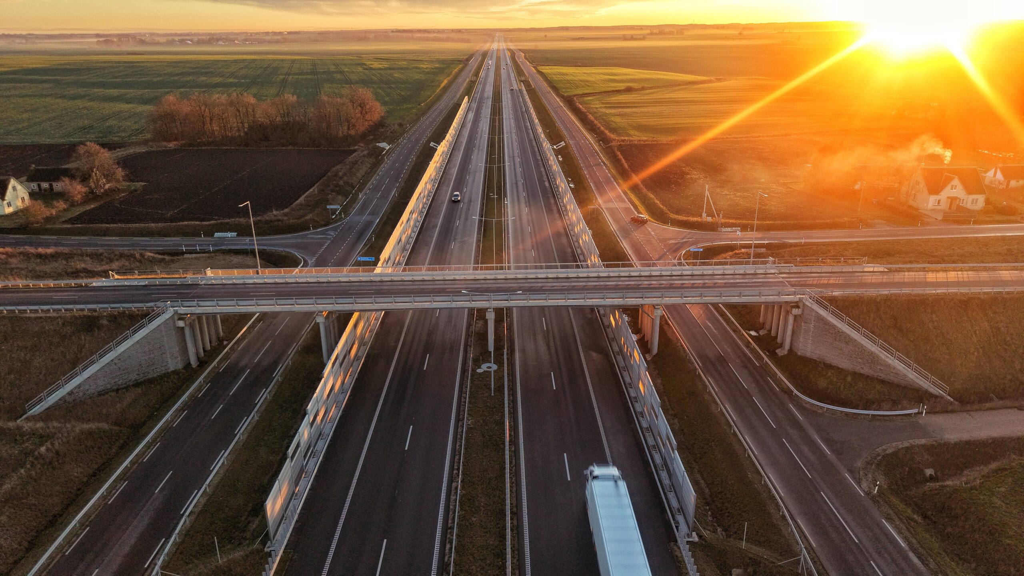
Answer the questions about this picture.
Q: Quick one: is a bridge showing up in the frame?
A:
Yes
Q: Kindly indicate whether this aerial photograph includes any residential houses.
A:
Yes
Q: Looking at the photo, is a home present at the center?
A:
No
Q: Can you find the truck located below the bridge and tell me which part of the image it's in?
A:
bottom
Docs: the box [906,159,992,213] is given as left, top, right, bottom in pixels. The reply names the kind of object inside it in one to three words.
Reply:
house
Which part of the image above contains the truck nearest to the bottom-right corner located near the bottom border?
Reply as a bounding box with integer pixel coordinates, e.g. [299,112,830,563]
[583,461,650,576]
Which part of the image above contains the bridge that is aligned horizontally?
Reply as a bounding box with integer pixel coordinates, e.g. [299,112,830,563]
[176,264,806,366]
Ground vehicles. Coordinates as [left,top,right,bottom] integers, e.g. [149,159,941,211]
[629,212,650,222]
[451,192,461,201]
[583,461,650,576]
